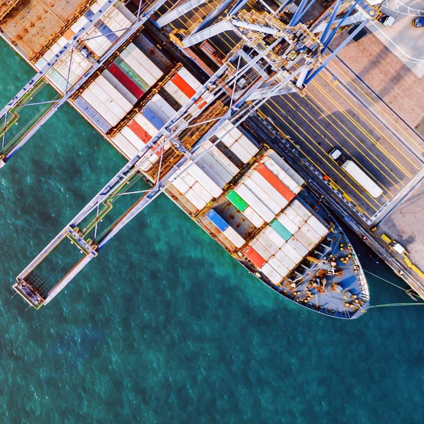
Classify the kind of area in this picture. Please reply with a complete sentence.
This image shows a port.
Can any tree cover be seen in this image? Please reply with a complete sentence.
No, the picture contains no tree cover.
